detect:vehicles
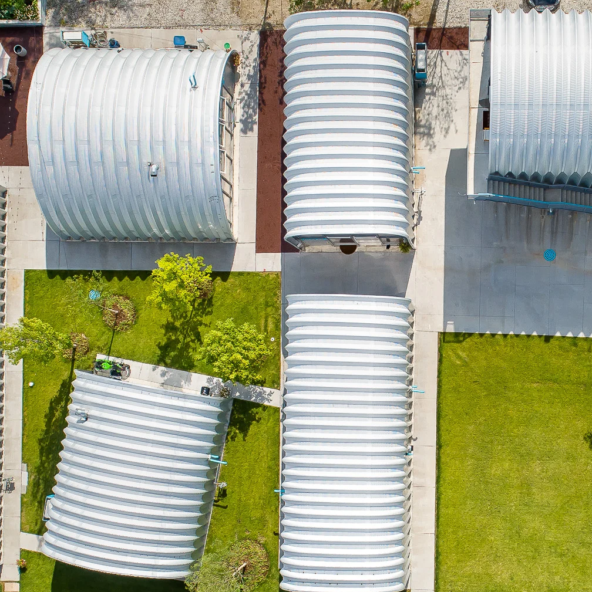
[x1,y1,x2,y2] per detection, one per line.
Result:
[527,0,559,8]
[92,361,129,378]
